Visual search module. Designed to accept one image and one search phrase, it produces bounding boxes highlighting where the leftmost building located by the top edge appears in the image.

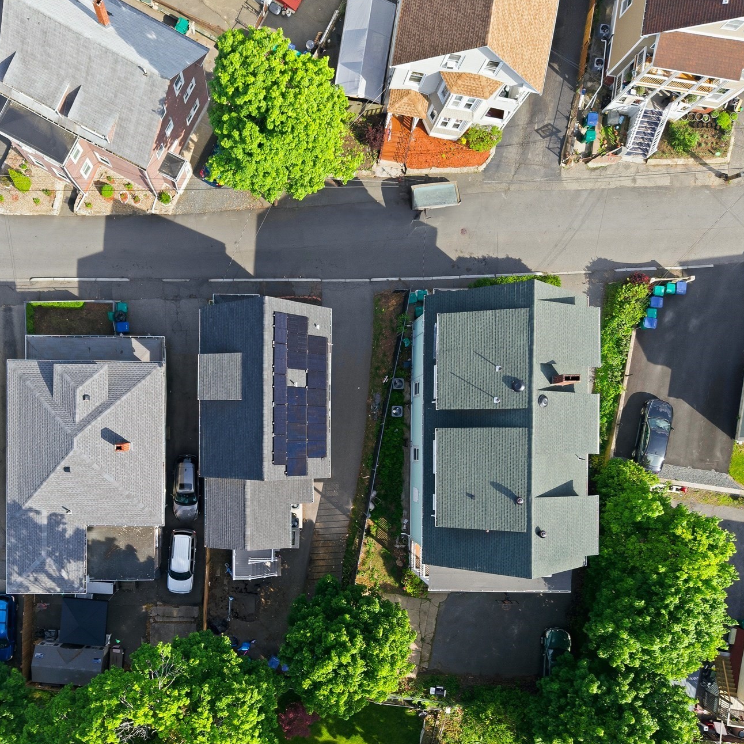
[0,0,215,196]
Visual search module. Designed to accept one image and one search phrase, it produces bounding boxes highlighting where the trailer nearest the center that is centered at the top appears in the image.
[409,177,463,225]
